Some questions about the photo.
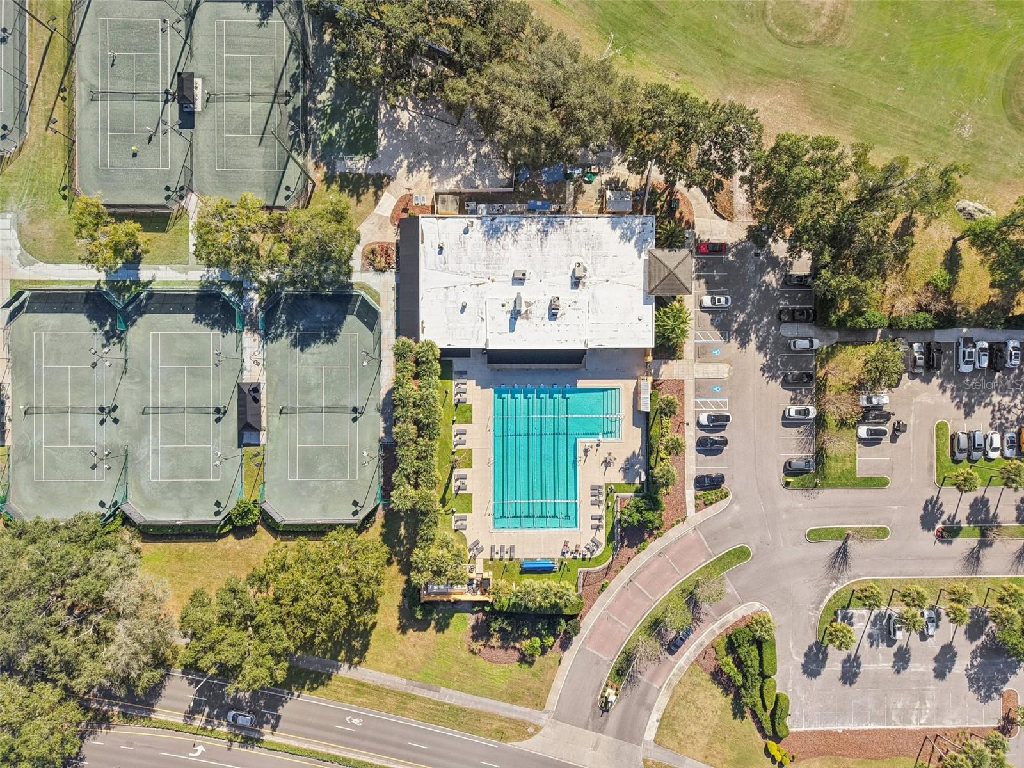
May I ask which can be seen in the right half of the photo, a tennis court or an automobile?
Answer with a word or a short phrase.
automobile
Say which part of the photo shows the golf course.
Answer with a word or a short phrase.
top right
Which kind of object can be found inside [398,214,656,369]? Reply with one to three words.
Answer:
building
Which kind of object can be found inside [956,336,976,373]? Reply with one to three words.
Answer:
vehicle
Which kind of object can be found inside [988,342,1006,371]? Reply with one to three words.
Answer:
car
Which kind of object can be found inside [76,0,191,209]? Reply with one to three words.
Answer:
tennis court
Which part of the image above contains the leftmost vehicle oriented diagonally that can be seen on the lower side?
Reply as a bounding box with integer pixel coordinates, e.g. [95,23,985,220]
[664,623,693,658]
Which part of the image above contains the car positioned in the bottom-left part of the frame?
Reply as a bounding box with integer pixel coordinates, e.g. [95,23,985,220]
[227,707,257,727]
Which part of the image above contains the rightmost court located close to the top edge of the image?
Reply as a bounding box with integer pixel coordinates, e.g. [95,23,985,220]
[191,0,311,207]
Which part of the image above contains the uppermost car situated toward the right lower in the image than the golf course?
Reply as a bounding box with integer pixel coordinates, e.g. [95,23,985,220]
[696,240,726,255]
